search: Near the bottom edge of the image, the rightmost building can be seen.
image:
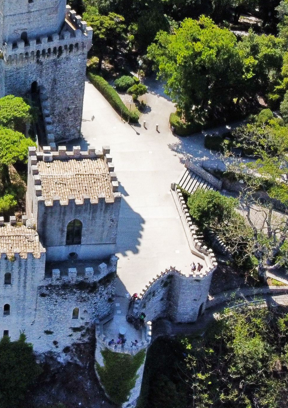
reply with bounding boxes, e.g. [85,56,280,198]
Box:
[89,310,154,407]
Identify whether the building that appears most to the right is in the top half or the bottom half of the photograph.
bottom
